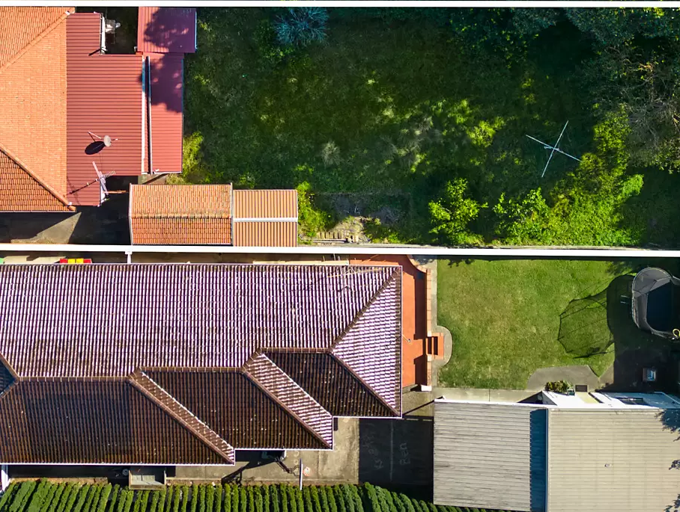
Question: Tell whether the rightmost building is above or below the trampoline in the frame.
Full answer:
It's below the trampoline that the rightmost building shows up.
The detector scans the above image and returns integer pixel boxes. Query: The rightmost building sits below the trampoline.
[529,390,680,512]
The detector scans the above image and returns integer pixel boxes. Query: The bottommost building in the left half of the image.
[0,264,404,466]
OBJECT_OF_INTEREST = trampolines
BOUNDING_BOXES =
[621,269,680,340]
